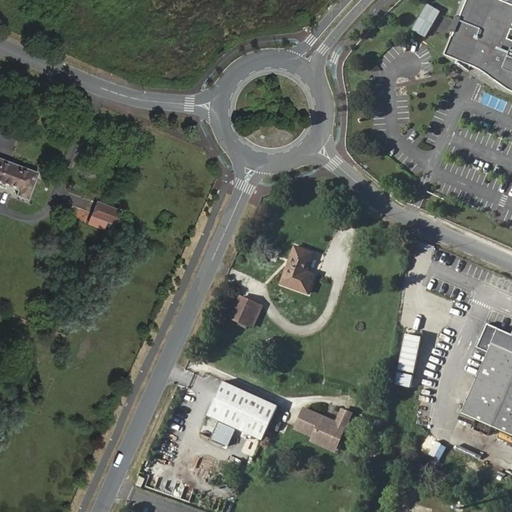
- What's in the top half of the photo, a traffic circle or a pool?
traffic circle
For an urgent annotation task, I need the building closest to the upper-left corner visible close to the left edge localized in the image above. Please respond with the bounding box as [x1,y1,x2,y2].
[0,156,40,204]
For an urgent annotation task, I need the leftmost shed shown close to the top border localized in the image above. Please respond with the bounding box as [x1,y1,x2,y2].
[412,4,440,38]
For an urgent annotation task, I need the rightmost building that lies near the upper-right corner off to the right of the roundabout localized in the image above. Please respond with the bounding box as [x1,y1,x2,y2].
[442,0,512,95]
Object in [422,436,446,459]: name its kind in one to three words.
shed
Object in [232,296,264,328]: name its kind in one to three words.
barn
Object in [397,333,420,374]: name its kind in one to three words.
building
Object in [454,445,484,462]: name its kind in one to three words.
vehicle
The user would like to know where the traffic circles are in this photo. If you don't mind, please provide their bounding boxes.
[180,38,346,194]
